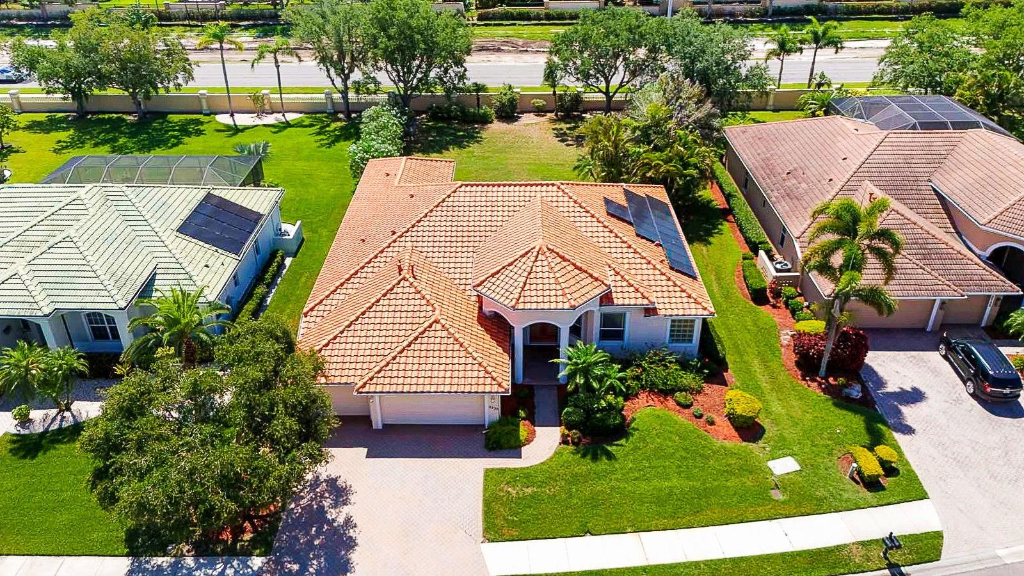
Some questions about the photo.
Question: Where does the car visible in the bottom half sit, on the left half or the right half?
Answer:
right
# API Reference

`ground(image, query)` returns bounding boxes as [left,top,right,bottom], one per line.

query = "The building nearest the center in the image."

[280,154,718,424]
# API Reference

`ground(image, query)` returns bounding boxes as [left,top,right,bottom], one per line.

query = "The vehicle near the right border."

[936,326,1024,395]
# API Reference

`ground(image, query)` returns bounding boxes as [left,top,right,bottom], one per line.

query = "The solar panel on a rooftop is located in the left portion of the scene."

[177,193,265,256]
